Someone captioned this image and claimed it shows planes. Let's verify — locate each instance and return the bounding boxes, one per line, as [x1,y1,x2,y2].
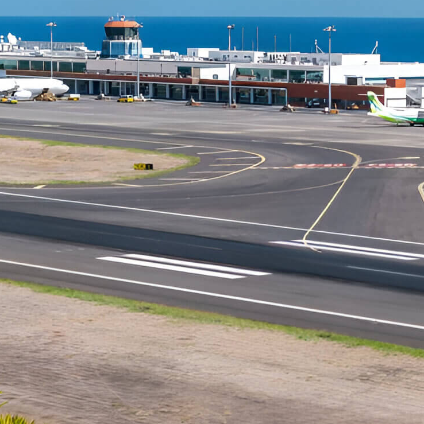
[356,89,424,126]
[0,79,74,101]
